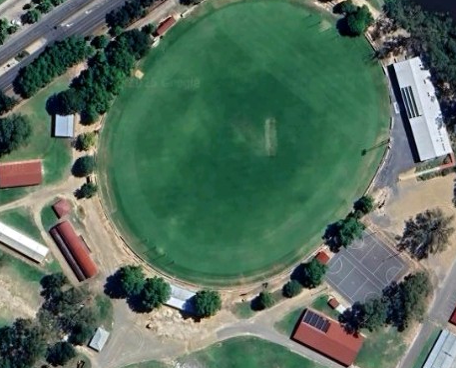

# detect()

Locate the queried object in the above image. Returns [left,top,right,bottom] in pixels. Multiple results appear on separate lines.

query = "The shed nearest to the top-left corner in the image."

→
[54,113,73,137]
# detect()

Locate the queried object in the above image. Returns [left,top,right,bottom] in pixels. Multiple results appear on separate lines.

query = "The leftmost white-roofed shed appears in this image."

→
[0,224,47,264]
